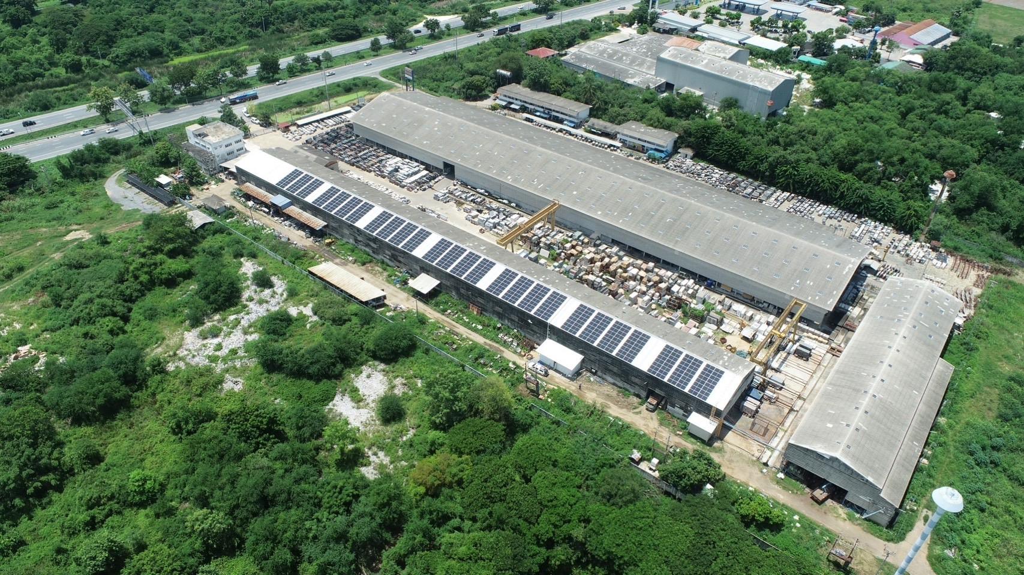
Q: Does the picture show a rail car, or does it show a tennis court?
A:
rail car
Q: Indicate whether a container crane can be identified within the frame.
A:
Yes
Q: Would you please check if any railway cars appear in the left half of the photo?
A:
No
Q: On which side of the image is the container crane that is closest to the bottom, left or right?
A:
right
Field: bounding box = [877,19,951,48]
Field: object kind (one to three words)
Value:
building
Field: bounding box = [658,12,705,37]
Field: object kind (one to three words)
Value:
building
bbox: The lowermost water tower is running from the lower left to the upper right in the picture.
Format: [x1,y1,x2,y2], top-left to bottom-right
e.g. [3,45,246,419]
[893,490,963,575]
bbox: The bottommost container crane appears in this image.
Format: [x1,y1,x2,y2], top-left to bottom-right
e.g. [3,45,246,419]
[744,296,812,390]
